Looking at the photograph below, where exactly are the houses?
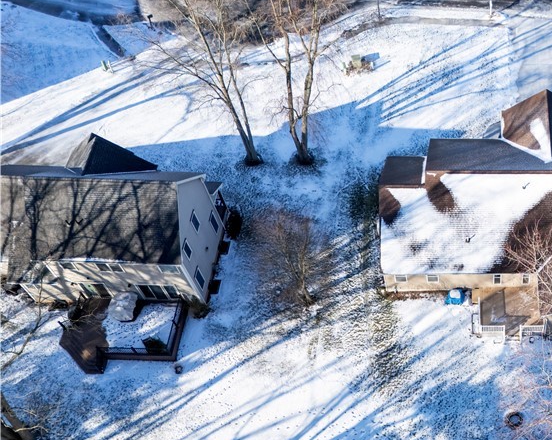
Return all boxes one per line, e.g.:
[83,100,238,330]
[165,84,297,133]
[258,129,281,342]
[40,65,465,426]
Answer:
[0,137,232,304]
[377,90,552,336]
